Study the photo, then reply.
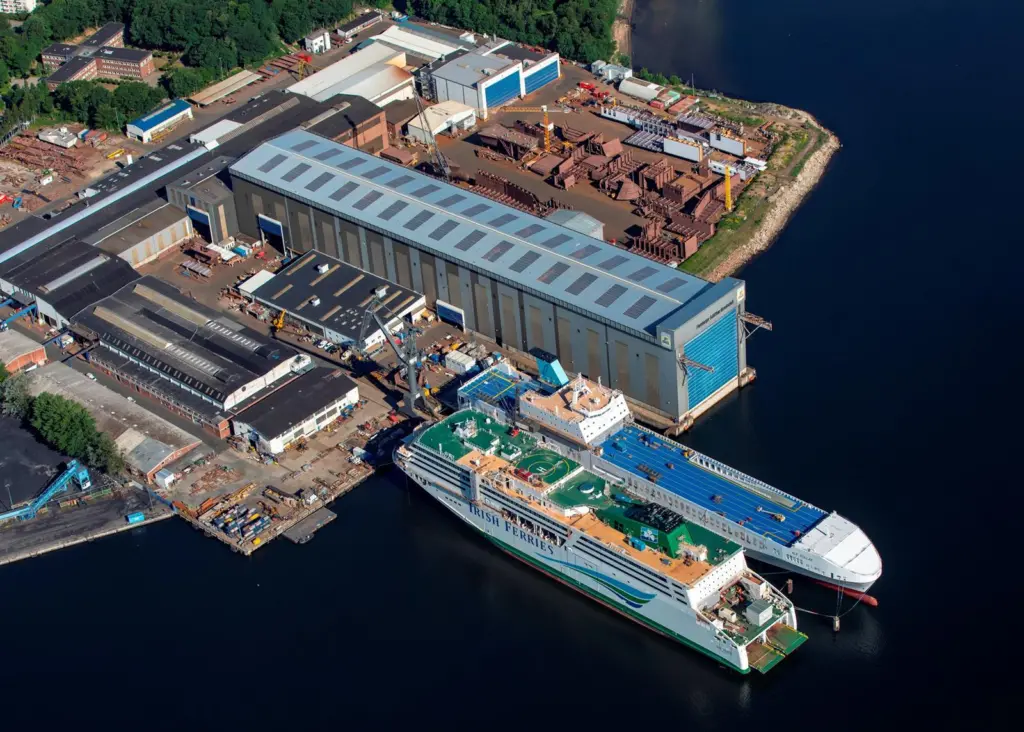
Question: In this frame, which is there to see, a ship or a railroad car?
ship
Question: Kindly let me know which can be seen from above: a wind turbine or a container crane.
container crane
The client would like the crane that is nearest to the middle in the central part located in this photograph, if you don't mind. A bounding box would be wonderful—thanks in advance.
[485,376,525,432]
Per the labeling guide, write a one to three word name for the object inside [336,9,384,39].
building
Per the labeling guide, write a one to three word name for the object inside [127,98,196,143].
shed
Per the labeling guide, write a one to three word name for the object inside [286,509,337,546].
ship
